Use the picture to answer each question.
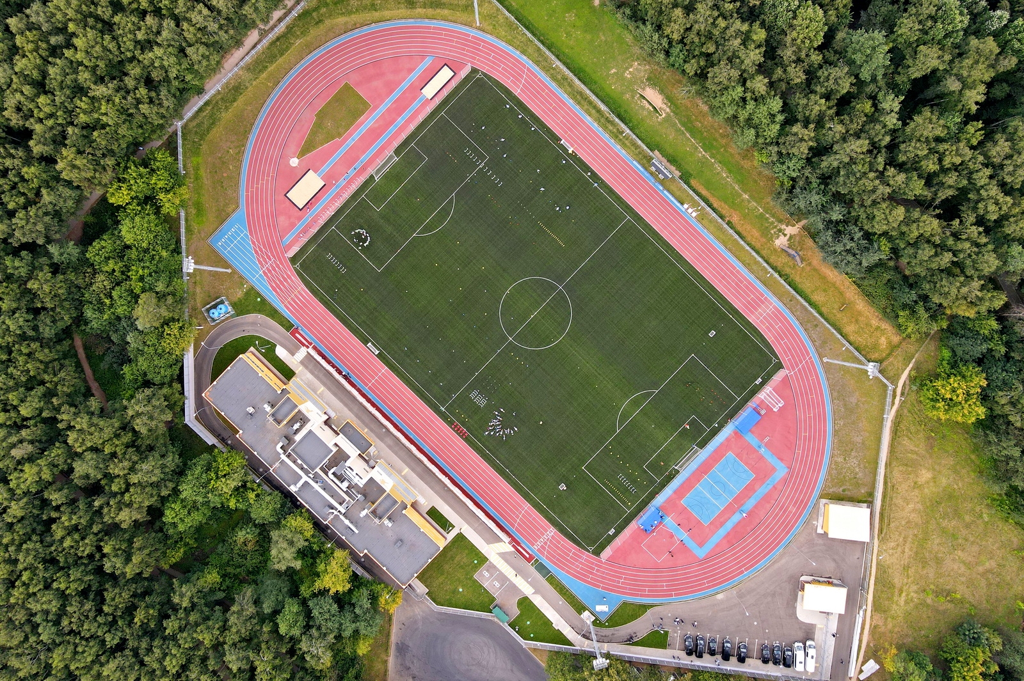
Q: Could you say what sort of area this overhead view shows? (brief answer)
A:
sports ground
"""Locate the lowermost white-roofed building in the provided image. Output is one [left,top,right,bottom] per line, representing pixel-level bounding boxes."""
[800,581,852,616]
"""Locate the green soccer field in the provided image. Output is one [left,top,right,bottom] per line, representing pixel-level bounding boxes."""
[288,66,784,558]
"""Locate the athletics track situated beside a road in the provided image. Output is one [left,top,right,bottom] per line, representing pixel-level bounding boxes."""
[203,17,834,623]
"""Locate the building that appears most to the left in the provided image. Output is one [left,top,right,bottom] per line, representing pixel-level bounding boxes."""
[200,352,446,590]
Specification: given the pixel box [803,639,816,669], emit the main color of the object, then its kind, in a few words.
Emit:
white vehicle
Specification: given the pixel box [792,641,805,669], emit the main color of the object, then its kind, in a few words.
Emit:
white vehicle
